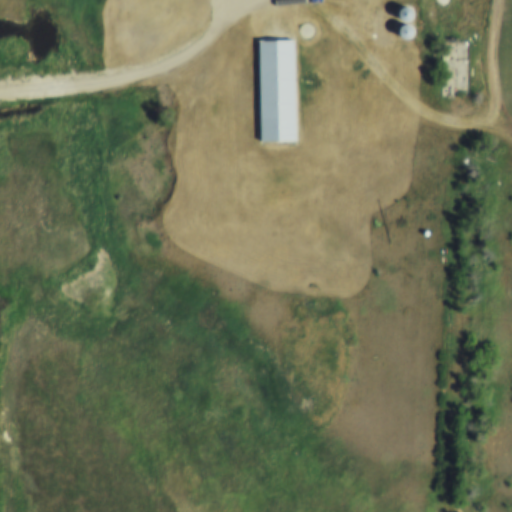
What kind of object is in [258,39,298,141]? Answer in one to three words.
barn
